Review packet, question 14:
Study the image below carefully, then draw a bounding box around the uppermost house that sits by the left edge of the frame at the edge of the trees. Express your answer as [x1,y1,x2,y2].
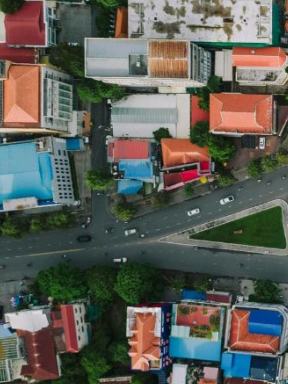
[5,0,65,51]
